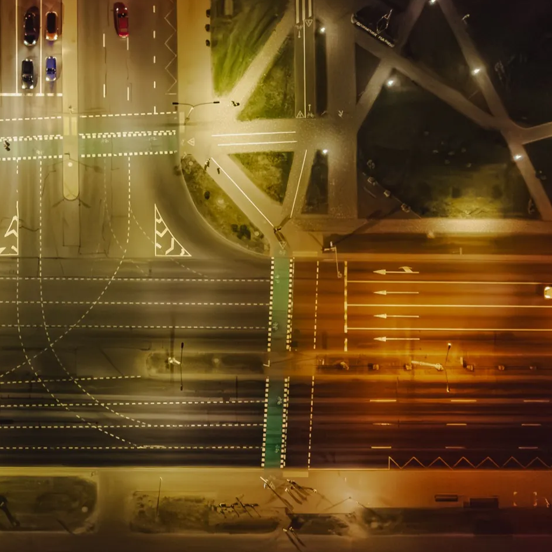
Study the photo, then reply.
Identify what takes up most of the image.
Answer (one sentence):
Most of the picture is covered by paved ground.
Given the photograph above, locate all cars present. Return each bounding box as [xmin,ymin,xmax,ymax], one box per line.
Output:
[542,286,552,299]
[114,2,129,36]
[23,7,38,42]
[21,58,35,89]
[44,55,58,81]
[44,9,58,40]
